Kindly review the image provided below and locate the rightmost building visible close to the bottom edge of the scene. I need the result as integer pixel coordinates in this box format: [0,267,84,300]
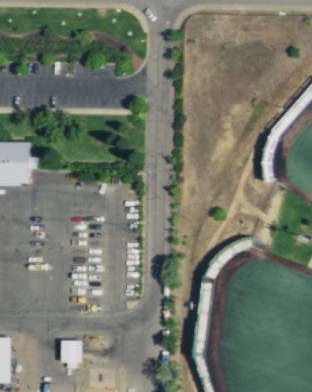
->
[62,340,84,376]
